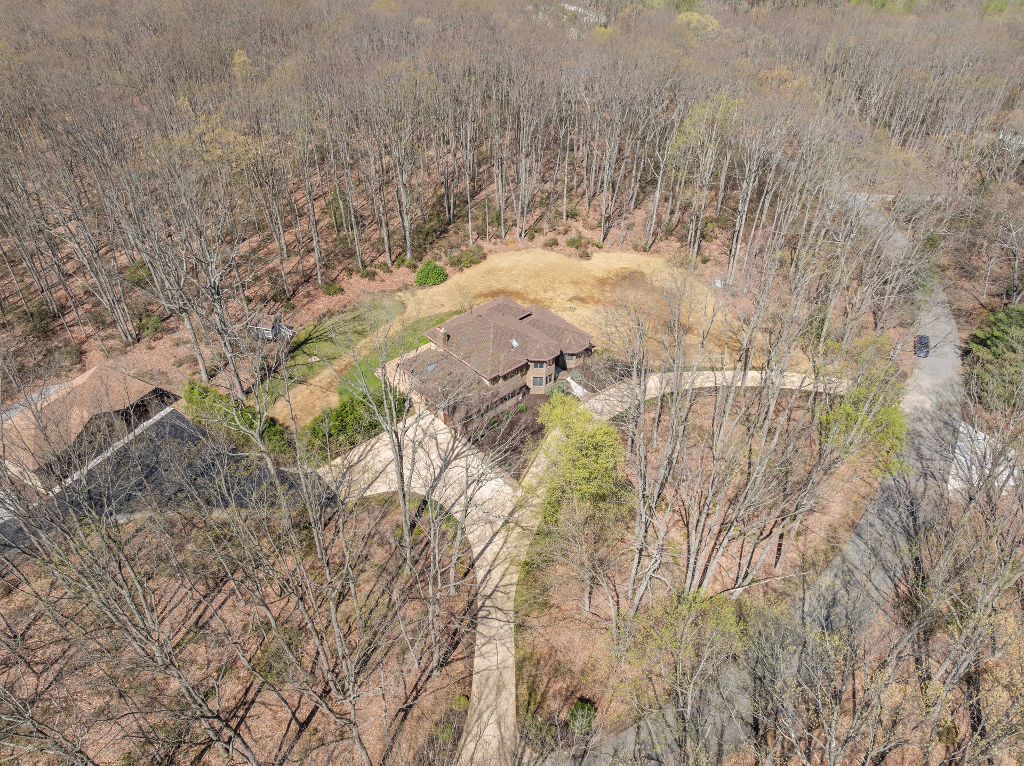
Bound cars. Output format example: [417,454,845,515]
[915,331,934,357]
